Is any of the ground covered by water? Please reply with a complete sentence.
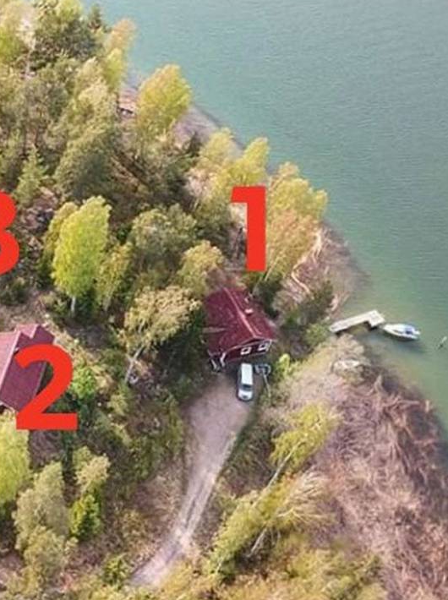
Yes, some water is visible.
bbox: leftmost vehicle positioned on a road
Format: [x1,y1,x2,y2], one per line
[237,363,257,401]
